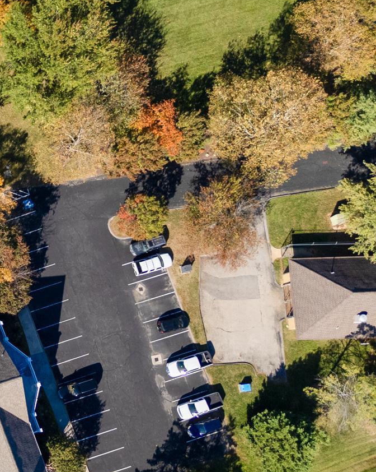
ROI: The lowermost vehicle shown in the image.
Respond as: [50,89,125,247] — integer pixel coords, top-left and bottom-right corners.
[185,417,225,437]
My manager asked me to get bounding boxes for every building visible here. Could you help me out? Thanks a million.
[0,322,47,472]
[289,257,376,340]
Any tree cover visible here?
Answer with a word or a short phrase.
Yes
